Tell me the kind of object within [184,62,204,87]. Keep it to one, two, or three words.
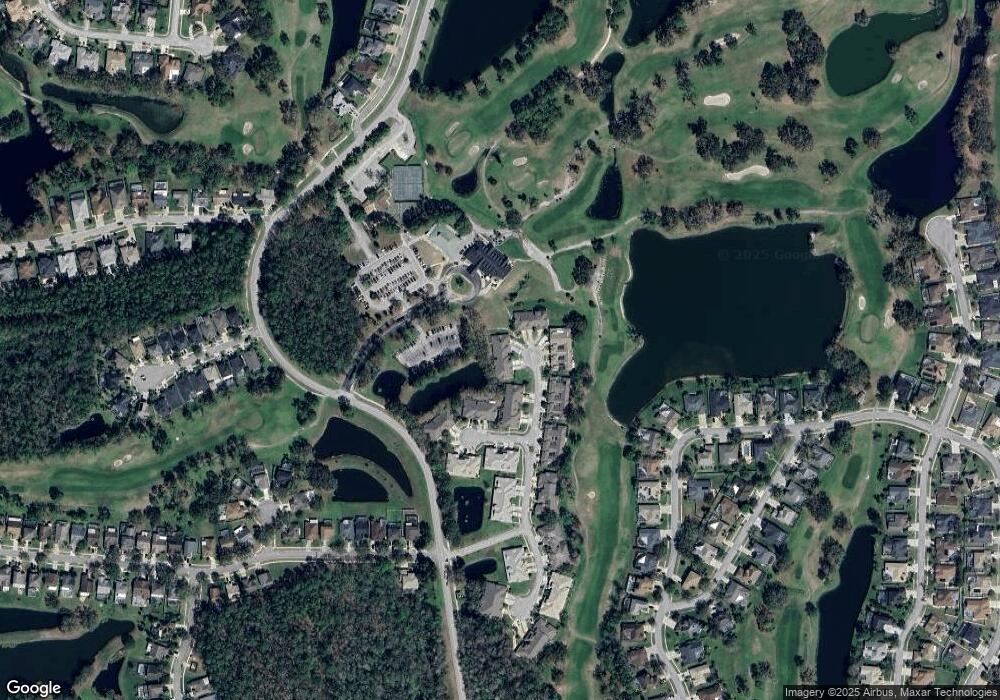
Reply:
house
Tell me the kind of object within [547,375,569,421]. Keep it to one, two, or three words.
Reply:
building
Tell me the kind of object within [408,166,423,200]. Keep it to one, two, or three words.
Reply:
tennis court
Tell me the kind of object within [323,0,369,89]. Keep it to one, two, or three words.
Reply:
pond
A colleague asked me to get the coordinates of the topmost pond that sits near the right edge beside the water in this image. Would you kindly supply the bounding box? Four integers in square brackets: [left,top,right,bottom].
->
[869,0,988,218]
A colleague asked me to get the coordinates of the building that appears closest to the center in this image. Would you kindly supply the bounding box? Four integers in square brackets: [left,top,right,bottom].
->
[489,335,511,382]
